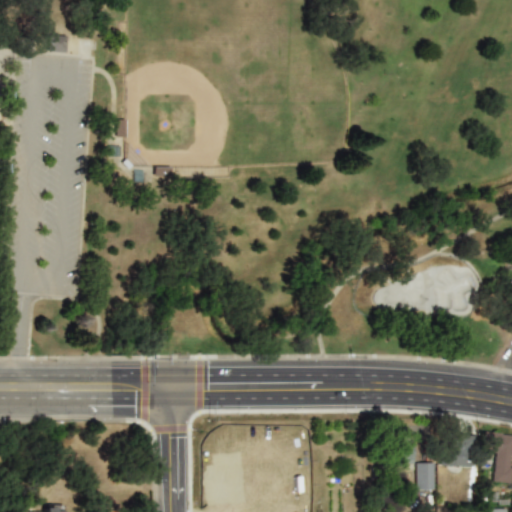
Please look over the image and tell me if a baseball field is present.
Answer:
Yes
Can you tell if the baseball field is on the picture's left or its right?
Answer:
left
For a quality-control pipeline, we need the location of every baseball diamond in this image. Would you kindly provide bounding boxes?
[128,62,228,166]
